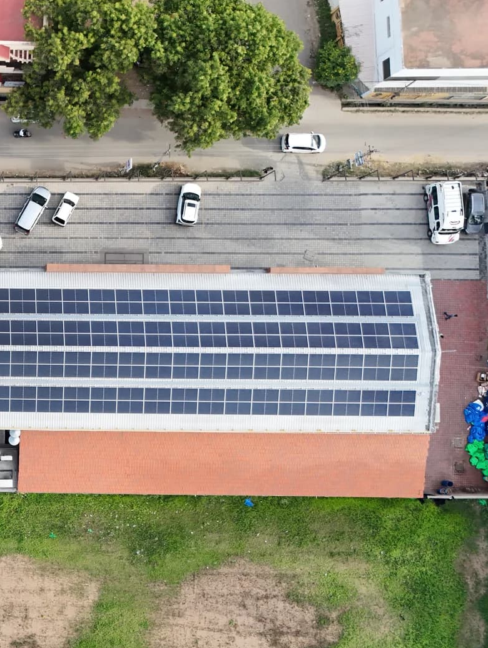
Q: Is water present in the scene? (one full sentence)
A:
No, there is no water in the image.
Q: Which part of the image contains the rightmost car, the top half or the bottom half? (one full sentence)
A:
The top half of the photo is where the rightmost car is.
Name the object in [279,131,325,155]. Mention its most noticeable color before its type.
white car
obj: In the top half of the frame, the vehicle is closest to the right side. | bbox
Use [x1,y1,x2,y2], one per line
[460,189,488,236]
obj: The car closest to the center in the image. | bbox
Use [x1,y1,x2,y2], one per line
[174,183,204,227]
